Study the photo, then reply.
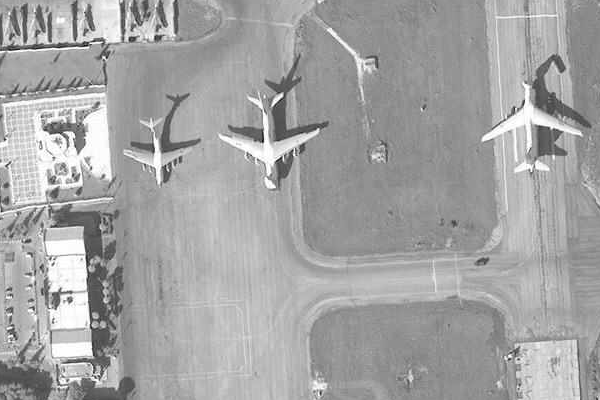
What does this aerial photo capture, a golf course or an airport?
airport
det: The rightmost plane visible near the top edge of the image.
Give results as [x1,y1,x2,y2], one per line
[149,6,163,36]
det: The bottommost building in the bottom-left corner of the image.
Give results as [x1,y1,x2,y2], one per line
[60,363,92,379]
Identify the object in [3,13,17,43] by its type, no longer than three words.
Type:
airplane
